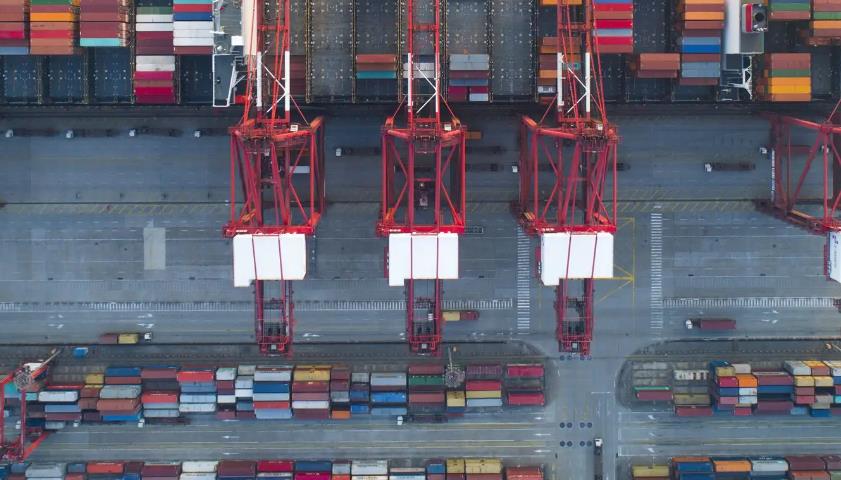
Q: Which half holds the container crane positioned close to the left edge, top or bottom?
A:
bottom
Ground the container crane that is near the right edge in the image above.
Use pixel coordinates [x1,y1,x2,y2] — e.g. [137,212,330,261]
[747,109,841,286]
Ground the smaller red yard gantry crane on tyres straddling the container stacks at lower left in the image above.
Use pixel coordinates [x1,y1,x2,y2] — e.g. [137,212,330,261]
[0,358,62,464]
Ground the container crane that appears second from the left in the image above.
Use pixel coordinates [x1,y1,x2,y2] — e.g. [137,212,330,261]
[227,0,343,364]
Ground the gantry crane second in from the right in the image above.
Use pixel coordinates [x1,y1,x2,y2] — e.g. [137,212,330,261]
[503,0,619,363]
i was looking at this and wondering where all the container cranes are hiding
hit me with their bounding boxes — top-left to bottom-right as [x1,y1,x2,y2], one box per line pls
[0,358,62,464]
[747,109,841,286]
[503,0,619,363]
[227,0,343,364]
[378,0,469,364]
